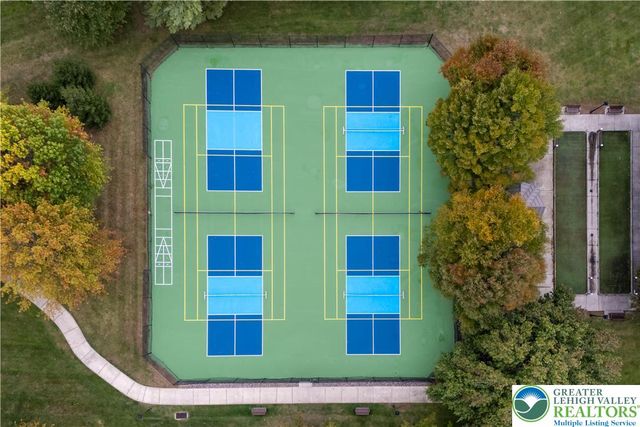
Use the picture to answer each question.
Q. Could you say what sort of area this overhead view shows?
sports ground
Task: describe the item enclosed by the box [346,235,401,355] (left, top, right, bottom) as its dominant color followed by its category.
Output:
blue sports court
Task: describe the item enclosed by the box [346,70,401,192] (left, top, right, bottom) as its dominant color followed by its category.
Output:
blue sports court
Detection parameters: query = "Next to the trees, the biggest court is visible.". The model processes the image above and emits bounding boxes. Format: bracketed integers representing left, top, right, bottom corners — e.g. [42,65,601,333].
[148,43,458,383]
